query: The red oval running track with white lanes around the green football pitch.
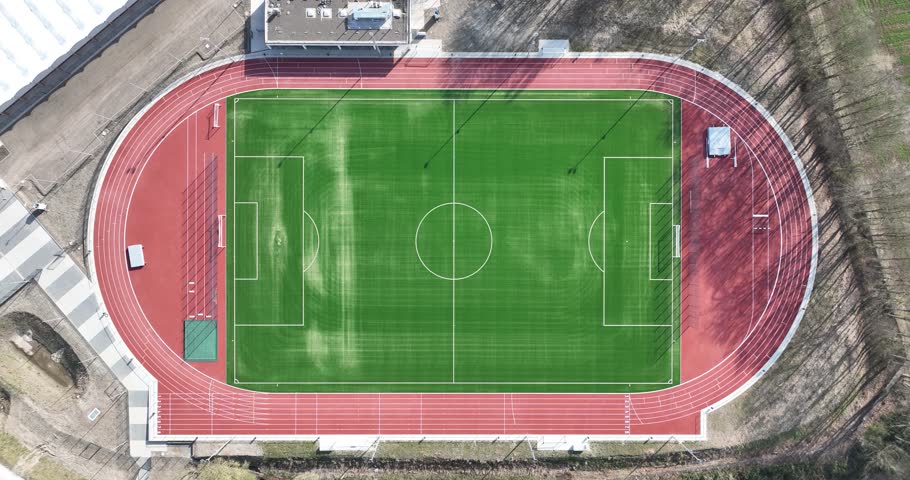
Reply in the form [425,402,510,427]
[95,58,813,435]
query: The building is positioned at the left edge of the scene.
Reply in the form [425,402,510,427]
[0,0,159,135]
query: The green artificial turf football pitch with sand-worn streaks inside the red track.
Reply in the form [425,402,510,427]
[227,89,681,393]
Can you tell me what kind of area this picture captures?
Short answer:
sports ground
